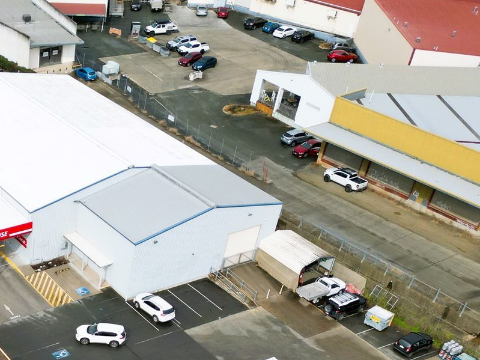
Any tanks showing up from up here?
No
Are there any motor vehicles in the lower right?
Yes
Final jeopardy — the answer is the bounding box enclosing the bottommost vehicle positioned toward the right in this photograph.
[394,328,437,355]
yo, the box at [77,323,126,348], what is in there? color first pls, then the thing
white car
